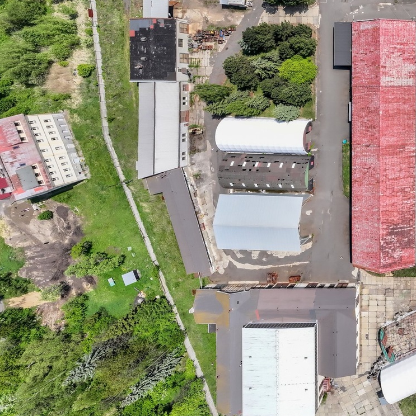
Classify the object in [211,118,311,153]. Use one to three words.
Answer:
building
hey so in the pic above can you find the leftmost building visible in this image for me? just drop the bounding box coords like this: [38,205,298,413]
[0,112,88,202]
